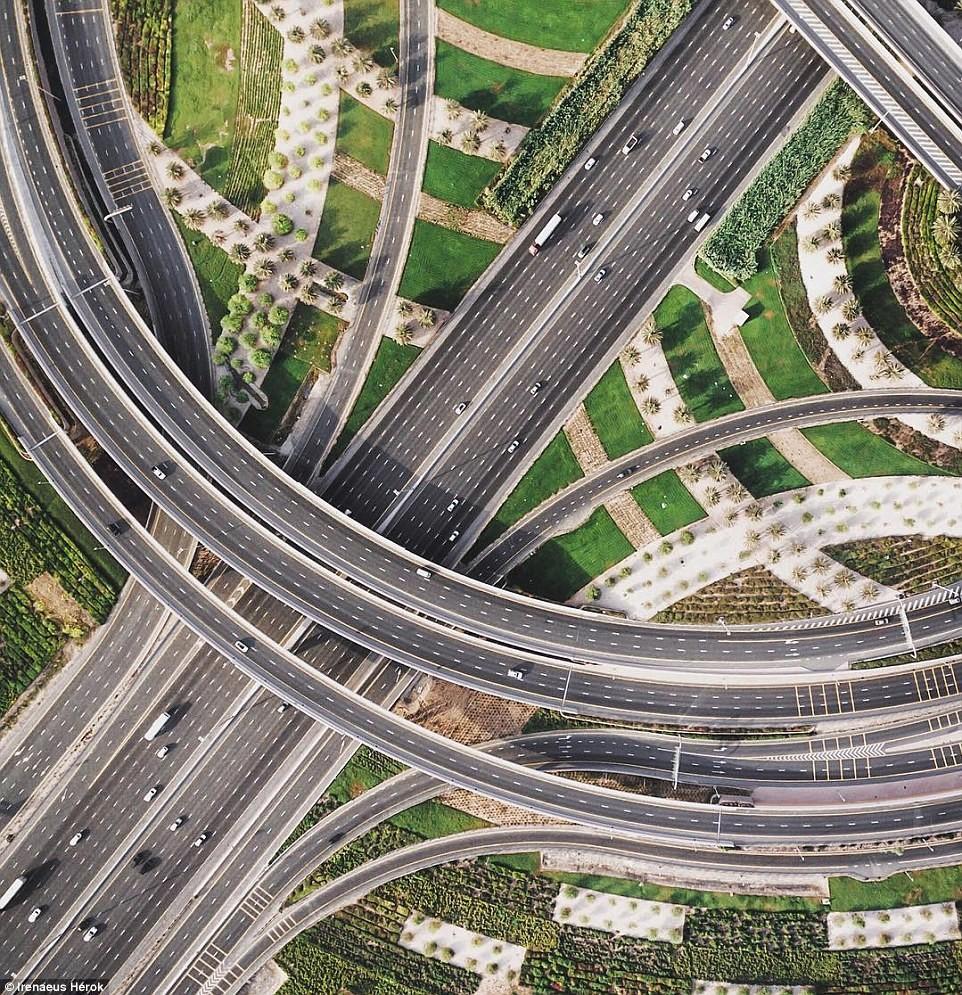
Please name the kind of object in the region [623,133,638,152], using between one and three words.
vehicle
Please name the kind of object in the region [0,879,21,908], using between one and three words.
truck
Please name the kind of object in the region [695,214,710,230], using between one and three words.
vehicle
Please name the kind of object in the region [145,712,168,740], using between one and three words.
truck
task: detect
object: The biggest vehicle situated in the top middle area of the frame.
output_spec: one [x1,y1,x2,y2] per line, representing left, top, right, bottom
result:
[531,209,565,252]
